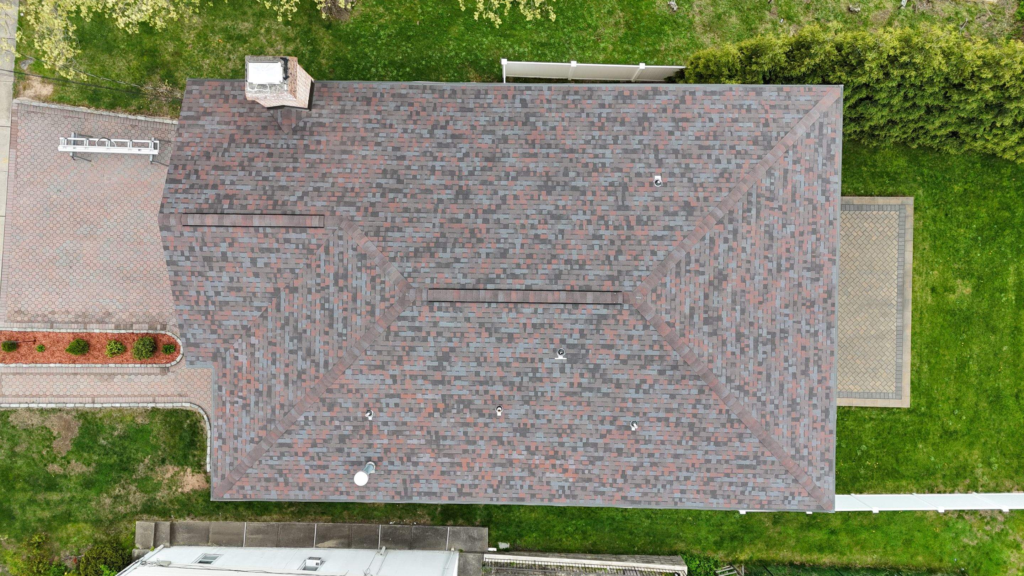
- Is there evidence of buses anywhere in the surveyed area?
No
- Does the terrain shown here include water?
No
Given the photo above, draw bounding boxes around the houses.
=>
[160,55,843,511]
[118,545,459,576]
